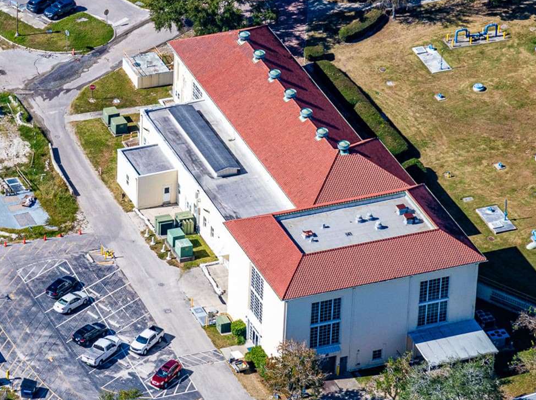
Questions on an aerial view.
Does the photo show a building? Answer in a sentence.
Yes, there is a building in the image.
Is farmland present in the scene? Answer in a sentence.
No, no farmland is visible.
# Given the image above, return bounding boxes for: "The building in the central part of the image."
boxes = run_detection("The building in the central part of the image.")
[118,24,501,385]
